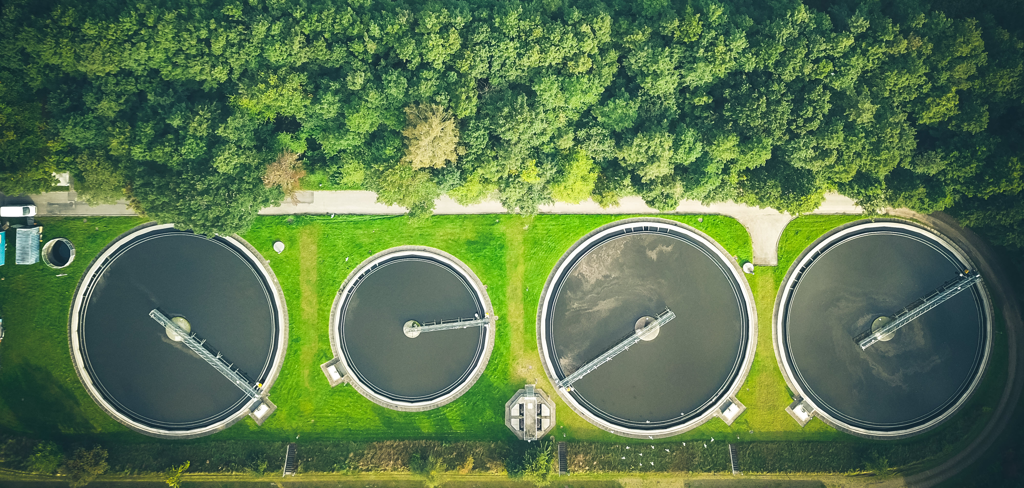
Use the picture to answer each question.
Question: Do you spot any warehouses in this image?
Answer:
No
